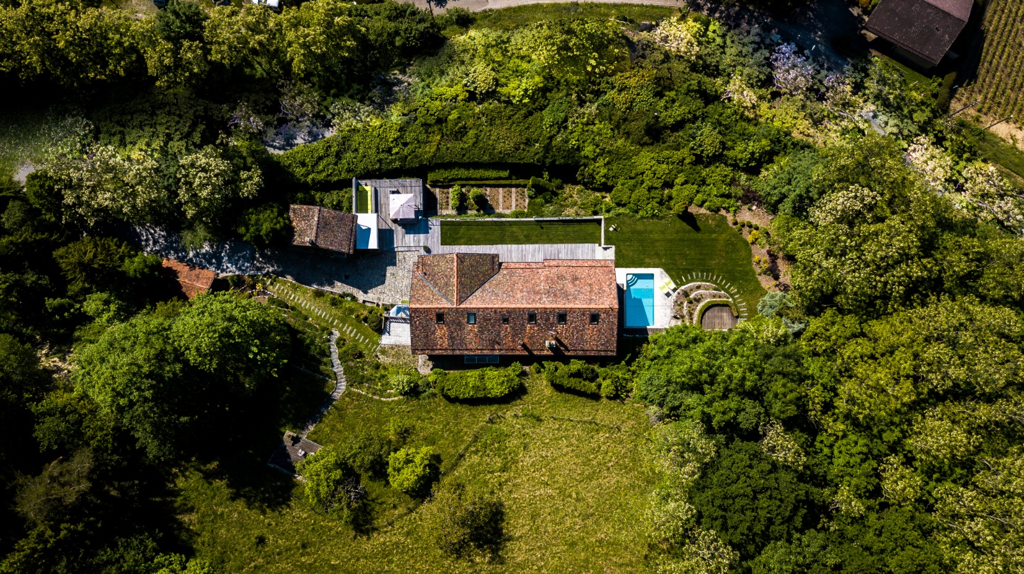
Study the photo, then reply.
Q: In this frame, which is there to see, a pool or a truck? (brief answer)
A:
pool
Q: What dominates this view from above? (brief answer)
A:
trees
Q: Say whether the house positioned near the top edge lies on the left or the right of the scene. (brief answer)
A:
right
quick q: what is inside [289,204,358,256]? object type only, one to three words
shed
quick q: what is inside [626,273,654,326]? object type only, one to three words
swimming pool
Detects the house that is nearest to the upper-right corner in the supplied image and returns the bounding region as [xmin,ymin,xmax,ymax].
[852,0,986,78]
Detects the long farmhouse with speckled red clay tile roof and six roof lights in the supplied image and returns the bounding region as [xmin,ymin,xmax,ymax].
[409,252,619,364]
